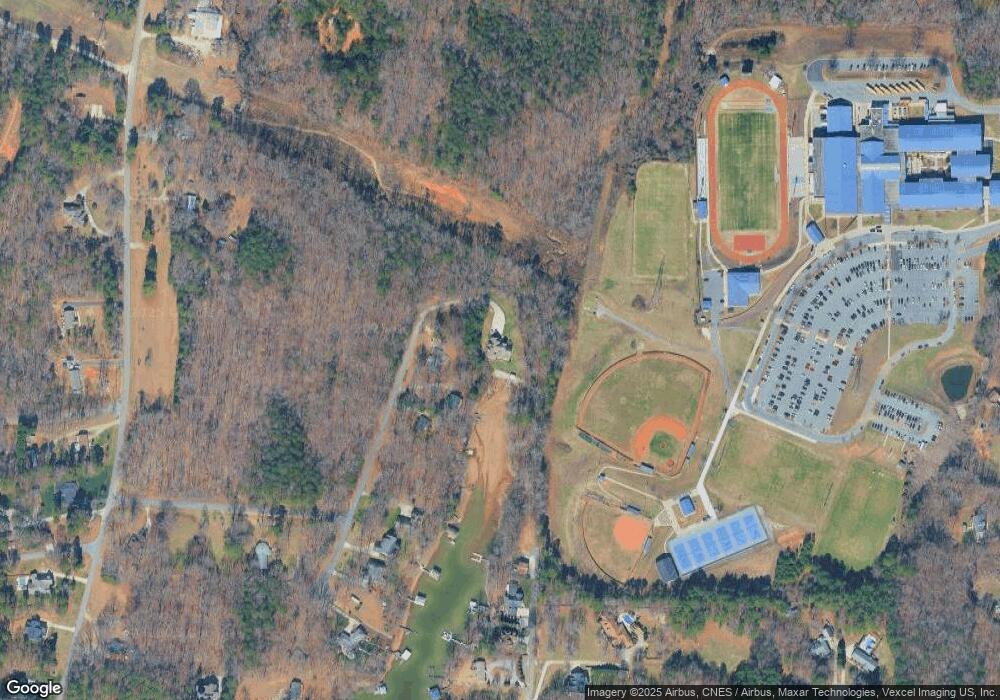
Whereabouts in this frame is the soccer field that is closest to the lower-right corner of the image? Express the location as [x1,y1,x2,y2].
[817,458,904,571]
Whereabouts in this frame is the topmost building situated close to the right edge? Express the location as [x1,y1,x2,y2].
[813,98,1000,225]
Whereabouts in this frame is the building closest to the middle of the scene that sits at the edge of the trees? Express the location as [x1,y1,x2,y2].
[485,332,512,357]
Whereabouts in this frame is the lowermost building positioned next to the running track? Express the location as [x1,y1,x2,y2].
[728,272,761,307]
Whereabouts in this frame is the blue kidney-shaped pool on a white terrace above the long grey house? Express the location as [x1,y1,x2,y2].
[857,634,880,656]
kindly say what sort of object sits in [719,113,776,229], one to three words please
sports field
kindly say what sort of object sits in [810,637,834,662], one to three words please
house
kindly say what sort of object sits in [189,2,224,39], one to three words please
building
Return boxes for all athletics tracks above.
[706,79,788,264]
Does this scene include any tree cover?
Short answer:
Yes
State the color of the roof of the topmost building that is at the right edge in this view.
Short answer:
blue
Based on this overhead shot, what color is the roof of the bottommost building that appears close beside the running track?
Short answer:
blue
